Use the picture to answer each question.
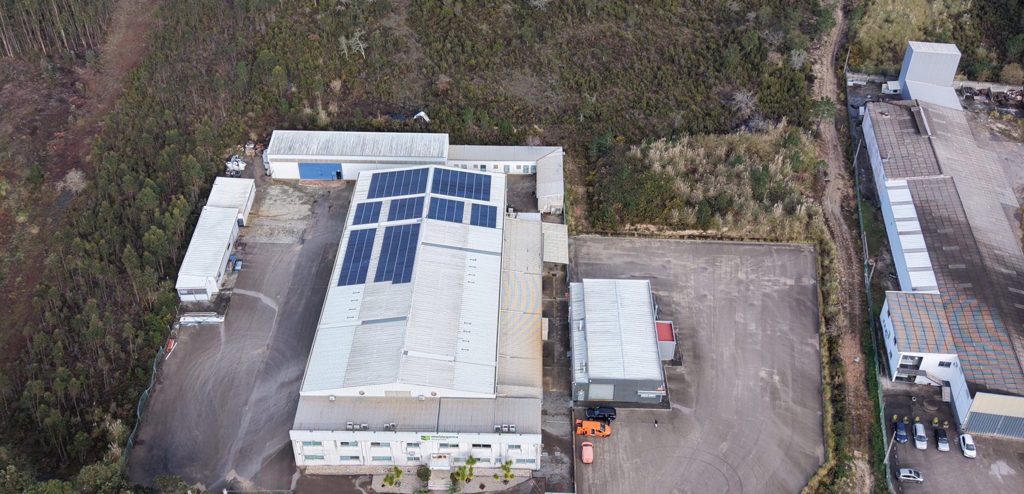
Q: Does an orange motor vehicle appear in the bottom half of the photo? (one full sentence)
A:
Yes, in the bottom half of the photo there is an orange motor vehicle.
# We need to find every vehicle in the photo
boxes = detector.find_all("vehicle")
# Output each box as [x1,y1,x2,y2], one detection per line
[959,434,977,458]
[578,419,611,437]
[580,442,594,464]
[894,468,925,483]
[911,425,928,450]
[933,429,950,452]
[891,423,908,446]
[586,407,616,422]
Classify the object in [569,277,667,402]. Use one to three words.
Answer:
building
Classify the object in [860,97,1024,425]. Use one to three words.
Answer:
building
